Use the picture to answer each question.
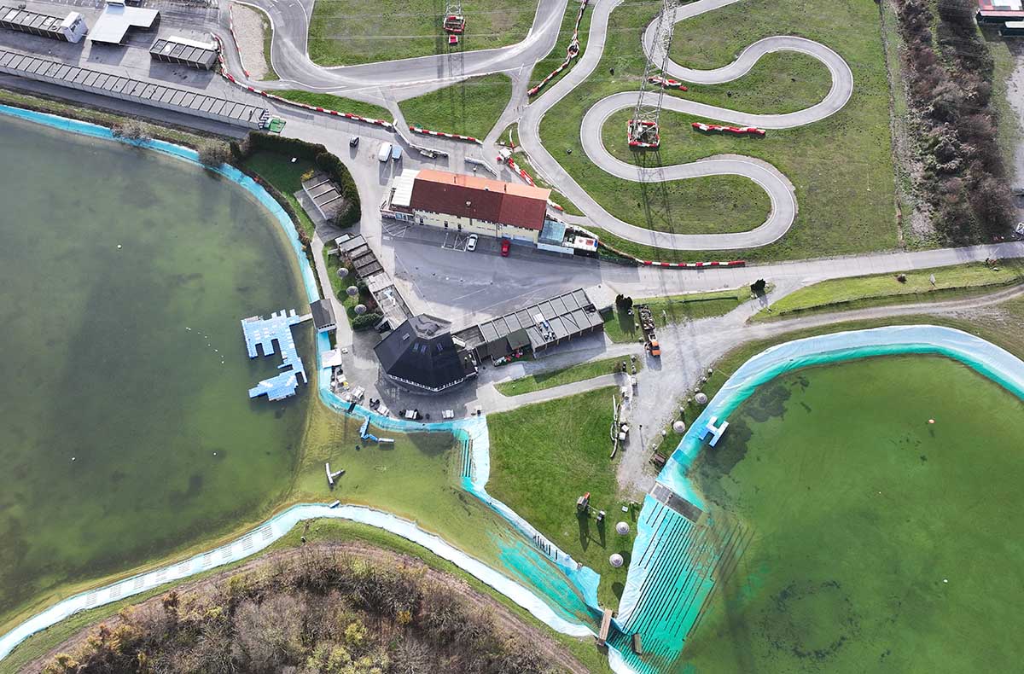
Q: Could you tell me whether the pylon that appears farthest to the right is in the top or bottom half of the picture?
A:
top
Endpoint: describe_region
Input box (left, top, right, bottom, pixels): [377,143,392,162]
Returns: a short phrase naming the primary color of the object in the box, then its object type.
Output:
white vehicle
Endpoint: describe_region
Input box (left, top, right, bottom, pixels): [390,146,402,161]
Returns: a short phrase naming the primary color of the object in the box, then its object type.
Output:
white vehicle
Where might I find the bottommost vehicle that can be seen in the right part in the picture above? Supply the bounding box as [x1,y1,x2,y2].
[645,329,665,357]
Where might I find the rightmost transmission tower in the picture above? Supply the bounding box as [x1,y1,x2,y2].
[625,0,684,146]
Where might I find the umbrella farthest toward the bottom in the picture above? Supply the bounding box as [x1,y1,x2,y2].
[609,554,622,568]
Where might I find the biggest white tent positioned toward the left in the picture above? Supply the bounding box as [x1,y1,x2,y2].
[321,349,344,374]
